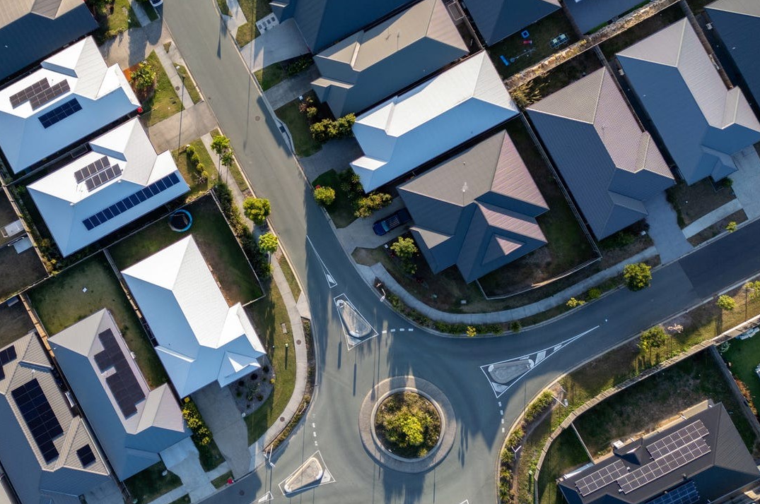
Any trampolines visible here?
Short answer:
Yes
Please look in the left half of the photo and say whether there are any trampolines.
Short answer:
Yes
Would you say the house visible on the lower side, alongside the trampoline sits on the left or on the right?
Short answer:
left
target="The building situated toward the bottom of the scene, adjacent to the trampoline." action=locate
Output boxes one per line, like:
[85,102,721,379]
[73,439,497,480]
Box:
[120,234,266,400]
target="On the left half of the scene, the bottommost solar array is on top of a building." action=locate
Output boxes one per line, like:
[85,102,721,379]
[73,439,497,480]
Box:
[76,445,96,467]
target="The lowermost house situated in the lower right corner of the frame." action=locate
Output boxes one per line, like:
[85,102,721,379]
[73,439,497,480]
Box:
[554,397,760,504]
